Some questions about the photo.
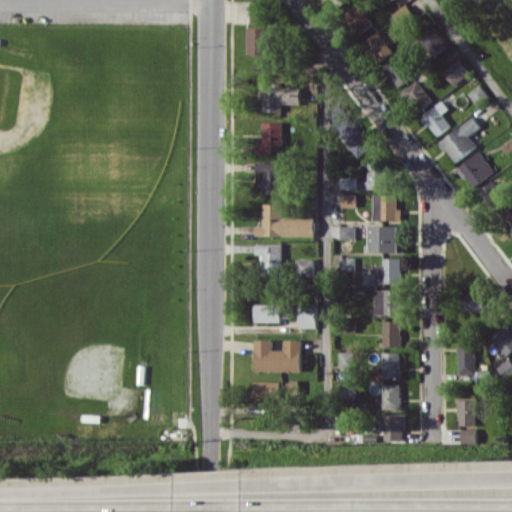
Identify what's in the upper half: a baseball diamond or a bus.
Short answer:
baseball diamond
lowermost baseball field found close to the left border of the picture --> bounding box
[0,262,137,416]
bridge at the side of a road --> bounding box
[172,470,240,512]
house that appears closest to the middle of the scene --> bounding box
[254,244,282,271]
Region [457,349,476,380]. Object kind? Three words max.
house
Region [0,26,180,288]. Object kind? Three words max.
baseball field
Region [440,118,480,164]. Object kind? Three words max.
house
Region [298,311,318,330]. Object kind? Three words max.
building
